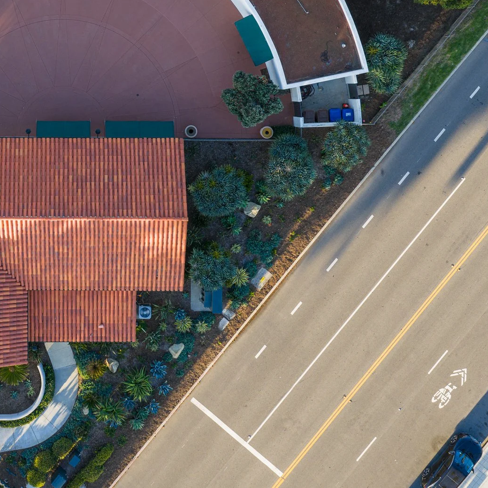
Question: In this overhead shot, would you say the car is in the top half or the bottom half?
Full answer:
Seen from above, the car lies in the bottom half of the view.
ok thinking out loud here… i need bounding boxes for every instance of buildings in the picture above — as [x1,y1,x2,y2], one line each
[233,0,368,95]
[0,120,190,368]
